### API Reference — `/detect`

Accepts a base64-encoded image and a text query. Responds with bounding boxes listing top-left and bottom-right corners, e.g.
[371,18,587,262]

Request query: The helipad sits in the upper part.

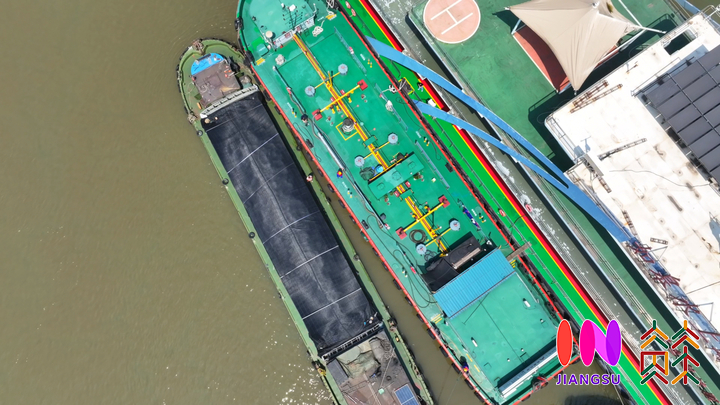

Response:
[423,0,480,43]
